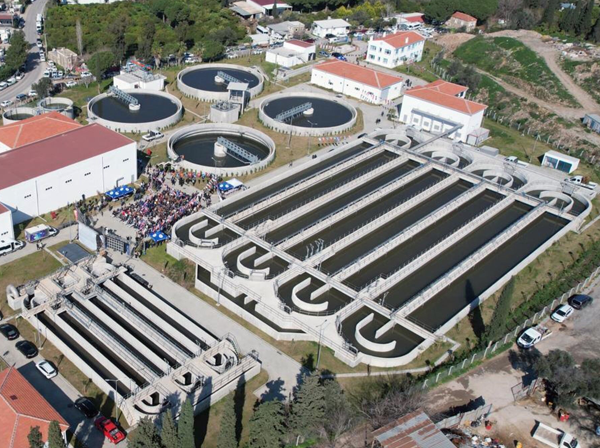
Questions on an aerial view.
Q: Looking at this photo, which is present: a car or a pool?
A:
car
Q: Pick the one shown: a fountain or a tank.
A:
tank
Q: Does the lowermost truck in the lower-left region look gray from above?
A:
No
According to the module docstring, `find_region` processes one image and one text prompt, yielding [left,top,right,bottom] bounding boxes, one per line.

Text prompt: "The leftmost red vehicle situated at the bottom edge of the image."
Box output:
[93,412,129,446]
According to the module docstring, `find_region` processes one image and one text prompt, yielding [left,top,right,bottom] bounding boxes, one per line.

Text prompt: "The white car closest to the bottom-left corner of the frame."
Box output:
[33,355,60,377]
